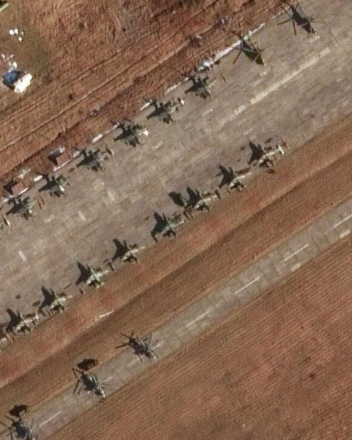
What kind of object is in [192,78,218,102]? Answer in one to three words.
airplane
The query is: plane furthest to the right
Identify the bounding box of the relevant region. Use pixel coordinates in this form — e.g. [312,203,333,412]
[253,144,280,167]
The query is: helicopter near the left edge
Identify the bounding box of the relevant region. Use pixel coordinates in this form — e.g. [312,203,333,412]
[9,417,44,440]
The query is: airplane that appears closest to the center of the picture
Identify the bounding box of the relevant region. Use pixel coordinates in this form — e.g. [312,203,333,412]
[159,214,185,238]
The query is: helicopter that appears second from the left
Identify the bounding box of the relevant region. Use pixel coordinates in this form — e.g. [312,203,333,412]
[79,366,114,399]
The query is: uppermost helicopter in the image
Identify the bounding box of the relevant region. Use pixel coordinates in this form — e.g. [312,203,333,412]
[285,3,326,39]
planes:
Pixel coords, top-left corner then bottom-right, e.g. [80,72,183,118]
[121,121,148,146]
[156,101,181,125]
[192,78,218,102]
[83,147,110,173]
[44,173,70,197]
[190,190,217,213]
[119,241,145,264]
[11,310,38,333]
[253,144,280,167]
[226,167,251,190]
[12,196,38,222]
[83,263,110,287]
[46,290,72,313]
[159,214,185,238]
